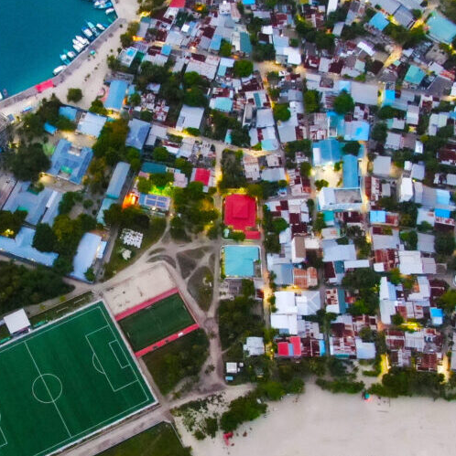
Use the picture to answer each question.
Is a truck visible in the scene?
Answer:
No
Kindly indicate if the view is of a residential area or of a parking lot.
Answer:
residential area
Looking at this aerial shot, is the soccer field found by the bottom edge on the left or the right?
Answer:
left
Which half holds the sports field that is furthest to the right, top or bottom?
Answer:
bottom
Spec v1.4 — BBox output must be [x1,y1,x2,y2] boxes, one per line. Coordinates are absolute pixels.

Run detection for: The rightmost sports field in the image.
[116,288,199,358]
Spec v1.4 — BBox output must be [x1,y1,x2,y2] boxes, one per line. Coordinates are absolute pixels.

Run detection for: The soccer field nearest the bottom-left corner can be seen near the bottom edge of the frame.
[0,301,158,456]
